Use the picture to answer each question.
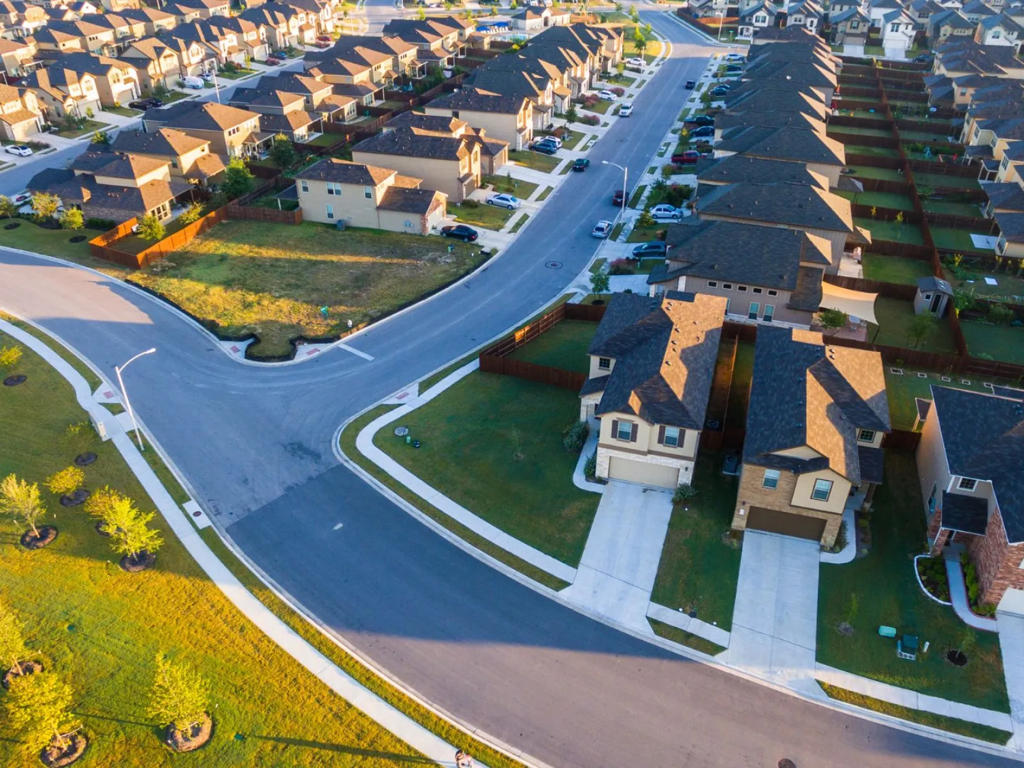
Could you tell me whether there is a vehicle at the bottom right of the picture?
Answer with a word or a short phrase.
No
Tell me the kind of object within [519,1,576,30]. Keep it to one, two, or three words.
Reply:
building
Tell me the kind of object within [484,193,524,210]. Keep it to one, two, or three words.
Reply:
car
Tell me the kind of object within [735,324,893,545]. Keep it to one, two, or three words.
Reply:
house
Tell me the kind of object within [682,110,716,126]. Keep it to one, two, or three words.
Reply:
vehicle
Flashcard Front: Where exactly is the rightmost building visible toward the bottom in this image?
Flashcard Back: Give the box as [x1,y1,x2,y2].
[893,385,1024,610]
